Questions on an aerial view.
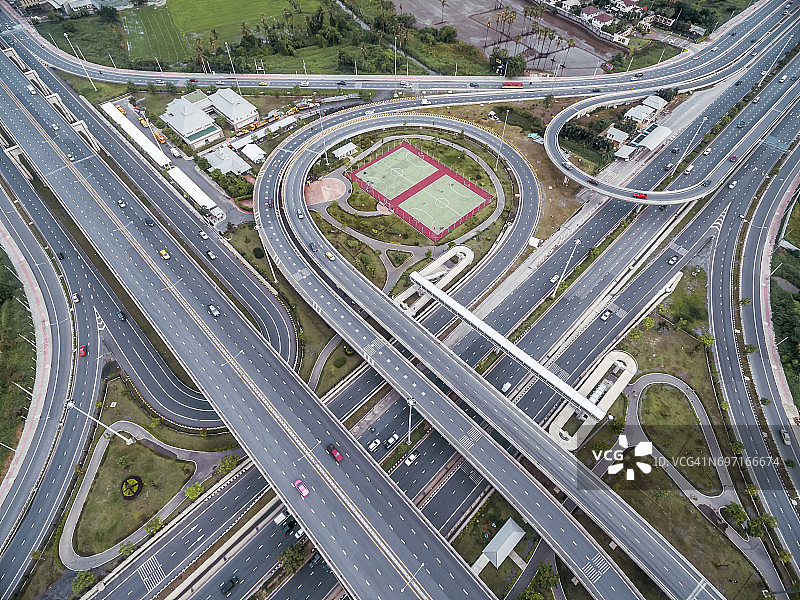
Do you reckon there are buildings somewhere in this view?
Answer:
Yes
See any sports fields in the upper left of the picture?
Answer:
Yes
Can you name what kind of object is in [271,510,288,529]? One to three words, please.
vehicle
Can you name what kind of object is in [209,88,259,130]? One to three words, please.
building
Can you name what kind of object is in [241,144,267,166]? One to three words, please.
house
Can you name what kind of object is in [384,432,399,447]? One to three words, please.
vehicle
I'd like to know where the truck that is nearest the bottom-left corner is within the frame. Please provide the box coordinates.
[219,574,240,597]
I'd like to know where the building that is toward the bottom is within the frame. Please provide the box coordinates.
[482,516,525,568]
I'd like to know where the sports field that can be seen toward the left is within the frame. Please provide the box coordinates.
[123,9,192,61]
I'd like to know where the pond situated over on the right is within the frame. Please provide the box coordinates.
[488,34,618,73]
